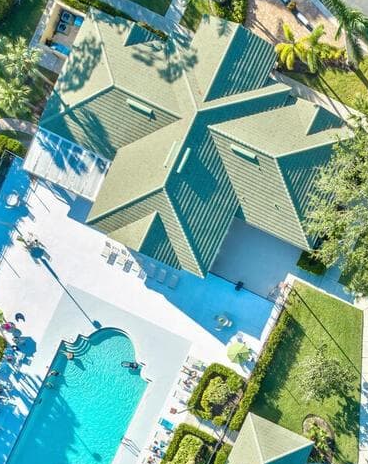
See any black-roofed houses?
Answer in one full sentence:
No, no black-roofed house can be seen from above.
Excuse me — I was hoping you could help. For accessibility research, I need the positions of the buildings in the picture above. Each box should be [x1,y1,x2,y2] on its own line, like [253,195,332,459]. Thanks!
[226,411,314,464]
[39,8,355,277]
